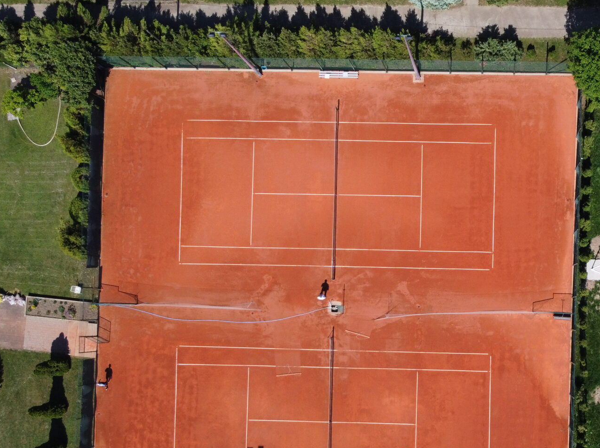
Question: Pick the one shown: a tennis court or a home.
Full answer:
I can see a tennis court in this picture.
